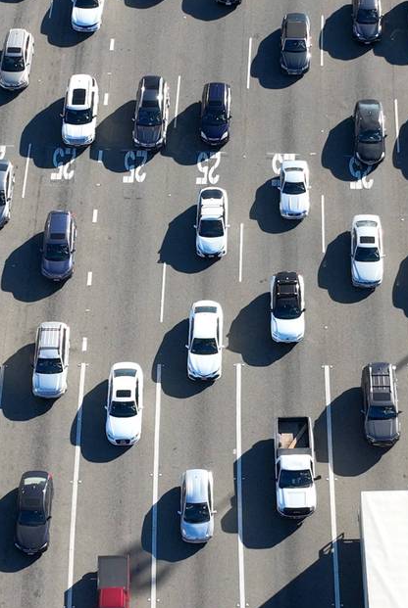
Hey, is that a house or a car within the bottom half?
car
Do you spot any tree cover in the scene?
No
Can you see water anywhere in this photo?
No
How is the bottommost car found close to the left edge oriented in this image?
from top to bottom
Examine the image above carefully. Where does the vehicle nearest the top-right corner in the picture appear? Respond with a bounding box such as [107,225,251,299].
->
[350,0,384,44]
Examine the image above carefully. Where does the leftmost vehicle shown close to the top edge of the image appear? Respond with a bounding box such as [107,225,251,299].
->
[0,27,36,91]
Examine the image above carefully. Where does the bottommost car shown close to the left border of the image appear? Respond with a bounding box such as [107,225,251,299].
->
[13,473,55,556]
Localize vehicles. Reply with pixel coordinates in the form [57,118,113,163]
[0,162,14,227]
[180,469,217,544]
[273,416,319,521]
[359,491,408,608]
[132,75,169,148]
[279,15,313,76]
[70,0,106,32]
[0,27,36,91]
[353,101,388,166]
[198,81,233,147]
[13,473,55,556]
[186,303,224,381]
[61,73,99,147]
[350,0,384,44]
[268,268,307,343]
[350,217,387,289]
[93,553,132,608]
[278,161,311,221]
[361,362,403,447]
[193,186,230,258]
[38,210,76,281]
[31,321,72,398]
[105,365,144,446]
